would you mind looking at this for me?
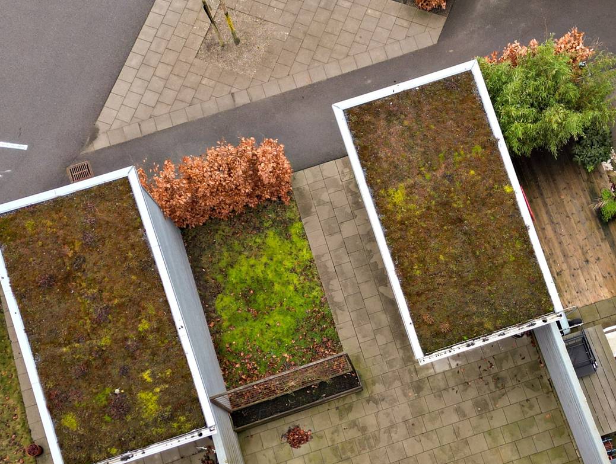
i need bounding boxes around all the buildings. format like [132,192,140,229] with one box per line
[335,63,563,370]
[0,165,229,464]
